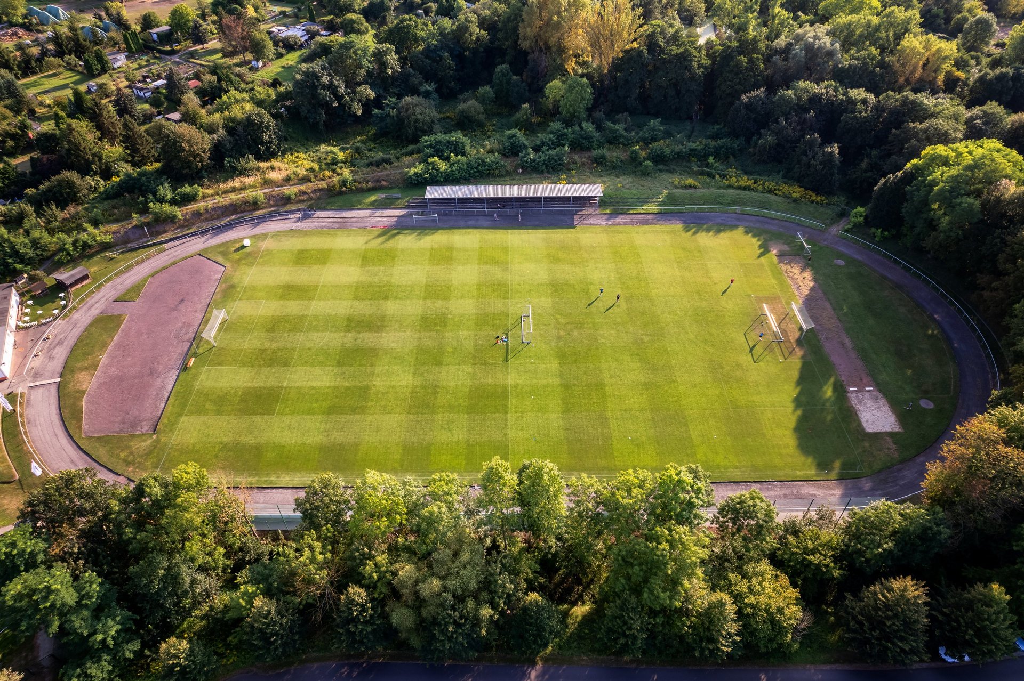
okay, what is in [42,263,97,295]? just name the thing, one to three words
shed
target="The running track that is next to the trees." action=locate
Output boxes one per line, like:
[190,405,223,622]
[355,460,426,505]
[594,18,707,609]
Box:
[29,212,989,515]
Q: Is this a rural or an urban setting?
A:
rural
